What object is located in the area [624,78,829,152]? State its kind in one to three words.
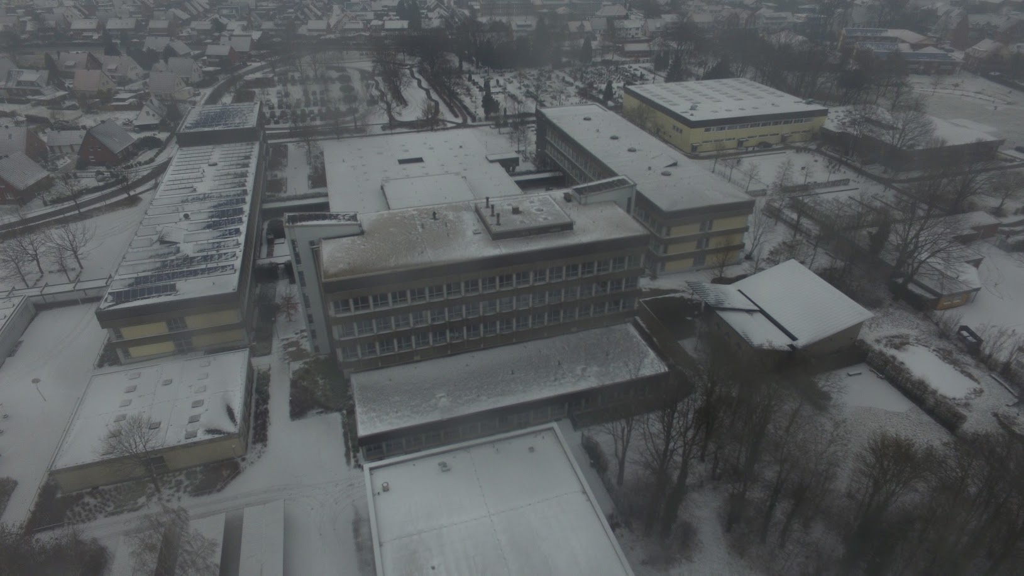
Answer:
building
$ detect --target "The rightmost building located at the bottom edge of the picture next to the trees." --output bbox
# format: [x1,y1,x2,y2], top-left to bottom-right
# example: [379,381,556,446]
[364,423,632,576]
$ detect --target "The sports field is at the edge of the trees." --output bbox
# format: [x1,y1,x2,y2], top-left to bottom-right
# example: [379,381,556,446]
[910,74,1024,144]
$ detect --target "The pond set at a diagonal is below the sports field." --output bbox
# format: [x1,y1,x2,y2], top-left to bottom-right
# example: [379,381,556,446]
[896,345,982,398]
